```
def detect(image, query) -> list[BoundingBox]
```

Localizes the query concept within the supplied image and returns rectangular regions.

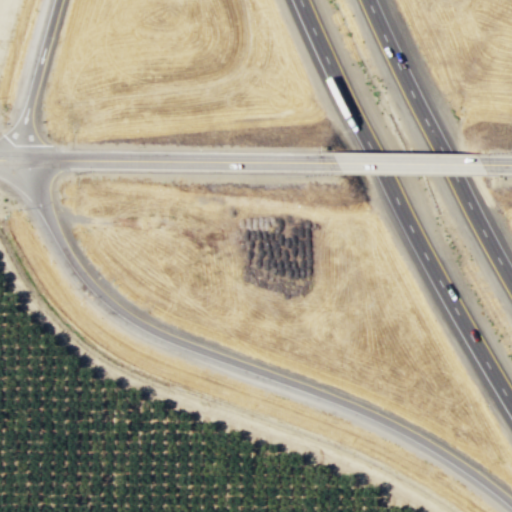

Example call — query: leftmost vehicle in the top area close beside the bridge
[326,74,356,129]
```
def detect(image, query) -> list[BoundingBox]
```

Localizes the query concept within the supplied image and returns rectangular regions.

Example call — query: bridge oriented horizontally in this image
[325,152,499,178]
